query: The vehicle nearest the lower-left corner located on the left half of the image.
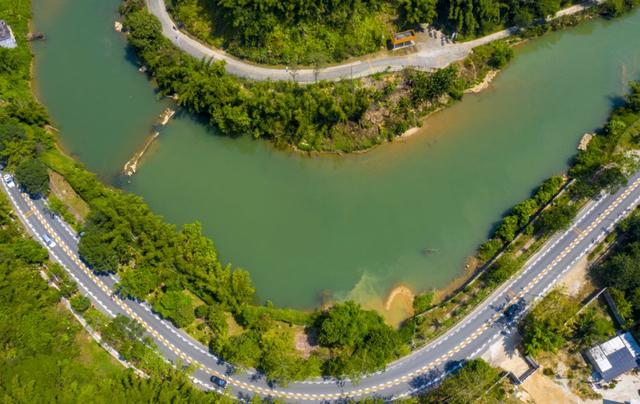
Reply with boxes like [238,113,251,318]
[42,235,56,250]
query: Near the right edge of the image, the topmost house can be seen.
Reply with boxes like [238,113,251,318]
[580,330,636,382]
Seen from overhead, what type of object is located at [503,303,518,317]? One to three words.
vehicle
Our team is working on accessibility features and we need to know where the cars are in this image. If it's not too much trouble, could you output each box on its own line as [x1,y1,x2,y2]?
[209,376,226,387]
[503,303,518,317]
[3,173,14,188]
[42,235,56,250]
